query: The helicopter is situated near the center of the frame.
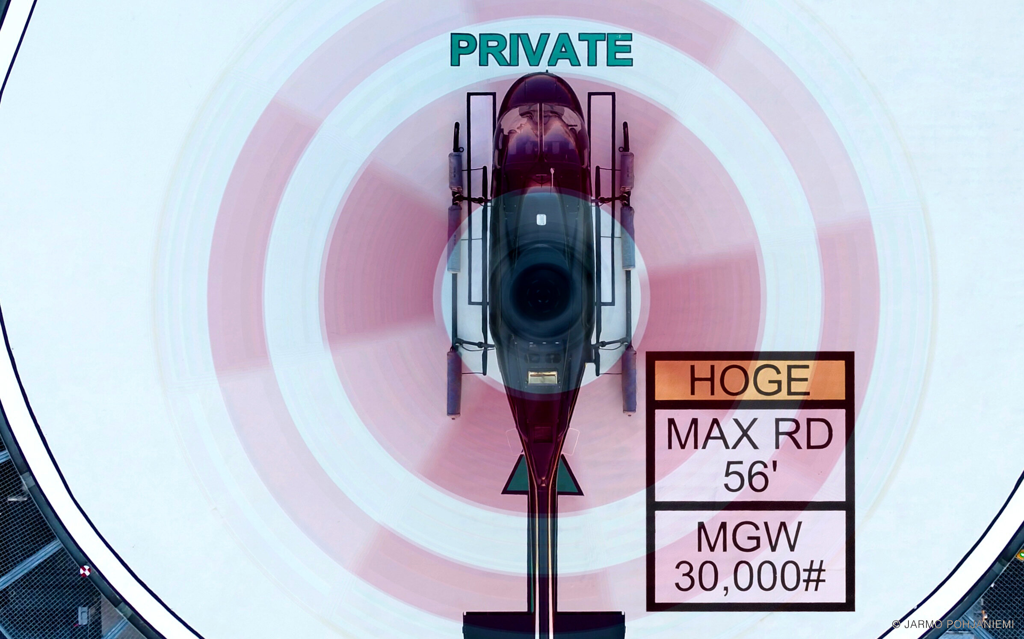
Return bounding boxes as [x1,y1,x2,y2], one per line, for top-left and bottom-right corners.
[182,0,903,639]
